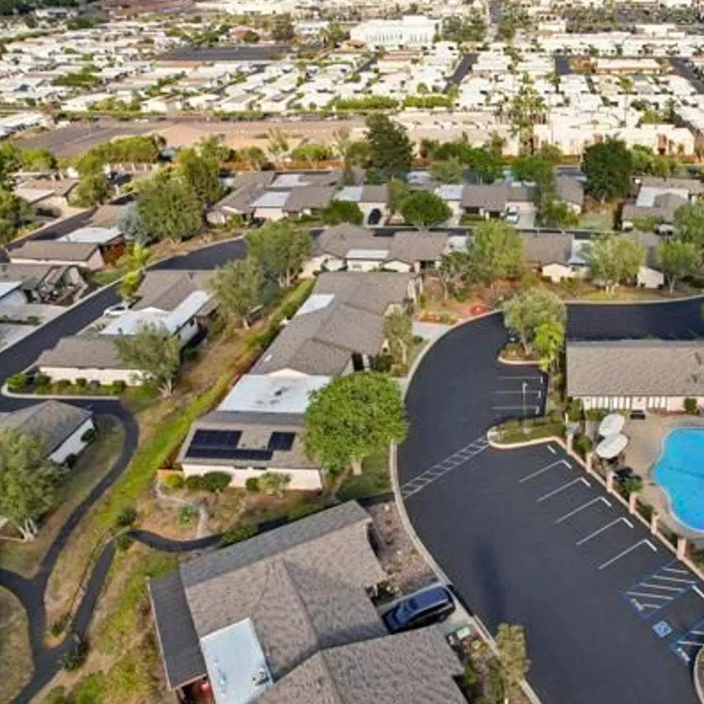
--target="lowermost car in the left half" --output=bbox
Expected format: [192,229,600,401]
[92,300,134,322]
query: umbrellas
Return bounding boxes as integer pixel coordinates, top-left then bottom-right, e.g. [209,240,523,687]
[594,435,631,460]
[596,414,628,438]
